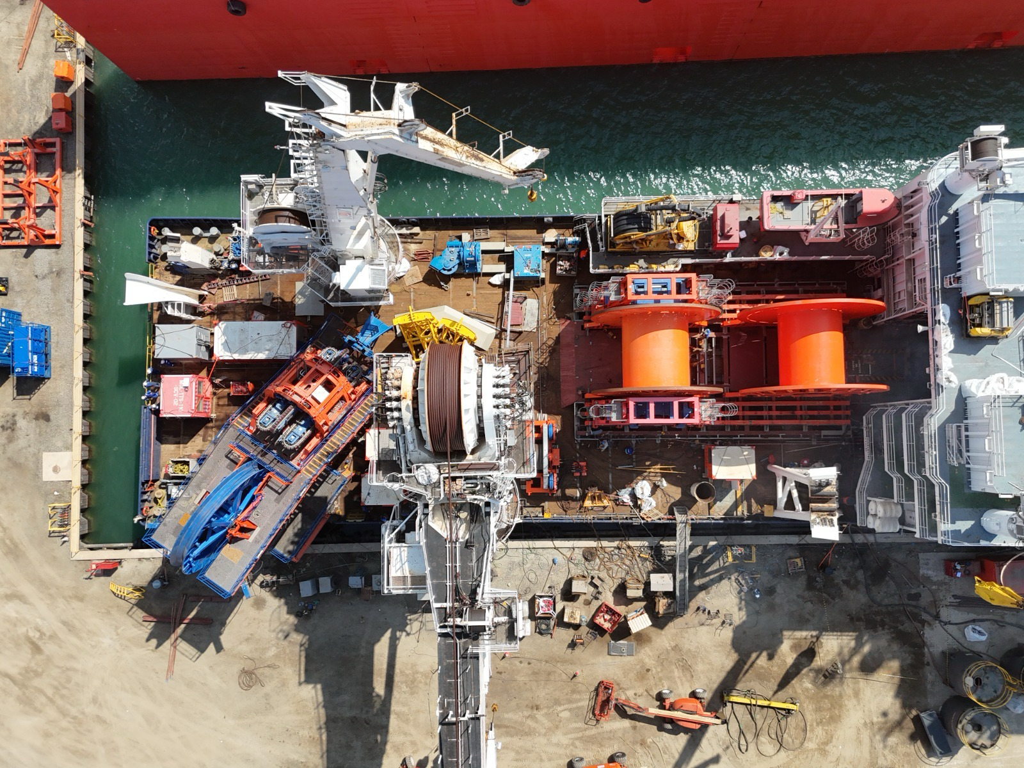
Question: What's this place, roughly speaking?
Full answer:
This image shows a port.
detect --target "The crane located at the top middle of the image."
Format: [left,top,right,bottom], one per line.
[259,69,549,306]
